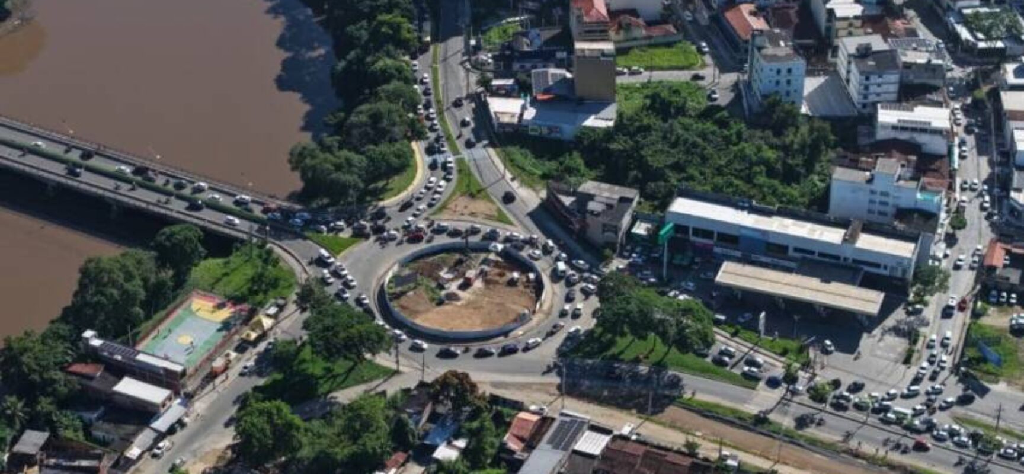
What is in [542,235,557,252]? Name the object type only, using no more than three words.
vehicle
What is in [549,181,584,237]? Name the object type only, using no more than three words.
building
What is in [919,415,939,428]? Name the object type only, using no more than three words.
vehicle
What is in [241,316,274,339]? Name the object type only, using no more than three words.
tent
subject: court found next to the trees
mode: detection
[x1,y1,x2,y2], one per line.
[131,292,256,365]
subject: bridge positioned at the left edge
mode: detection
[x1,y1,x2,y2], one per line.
[0,114,304,239]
